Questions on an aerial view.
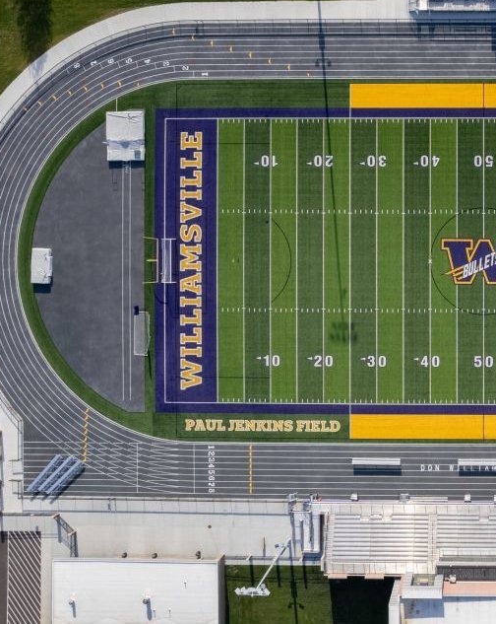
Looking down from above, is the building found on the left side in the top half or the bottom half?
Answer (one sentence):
You can find the building found on the left side in the bottom half.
